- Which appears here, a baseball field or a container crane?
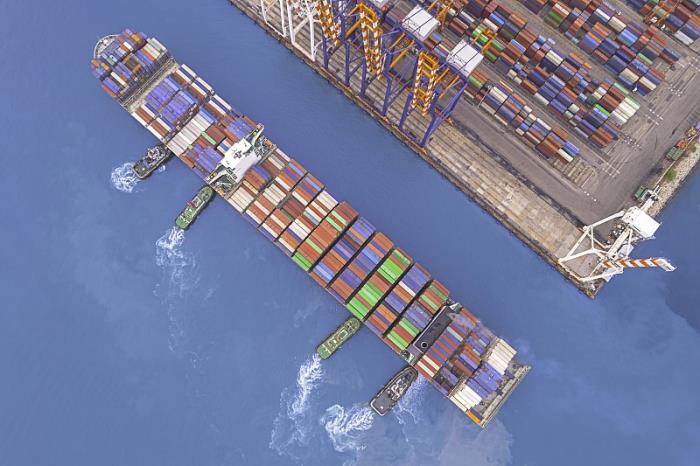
container crane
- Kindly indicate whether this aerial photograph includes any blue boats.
No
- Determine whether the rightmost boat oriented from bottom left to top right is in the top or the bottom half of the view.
bottom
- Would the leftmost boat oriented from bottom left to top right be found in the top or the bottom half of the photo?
top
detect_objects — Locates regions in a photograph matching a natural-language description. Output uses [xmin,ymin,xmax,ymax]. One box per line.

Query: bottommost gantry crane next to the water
[557,180,683,282]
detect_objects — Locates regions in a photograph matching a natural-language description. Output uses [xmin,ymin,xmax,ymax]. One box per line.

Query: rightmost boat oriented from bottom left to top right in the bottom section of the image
[372,366,419,415]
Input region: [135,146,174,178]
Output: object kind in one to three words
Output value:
boat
